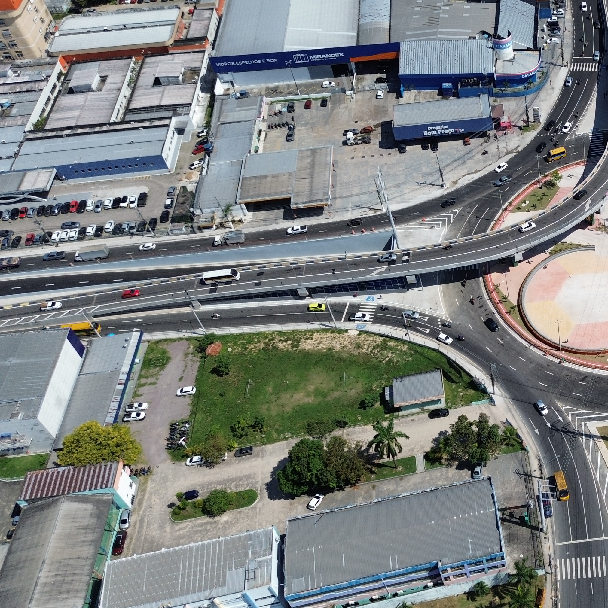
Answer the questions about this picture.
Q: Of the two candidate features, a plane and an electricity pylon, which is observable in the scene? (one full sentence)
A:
This aerial view contains an electricity pylon.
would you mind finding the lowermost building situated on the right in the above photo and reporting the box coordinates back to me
[284,477,508,608]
